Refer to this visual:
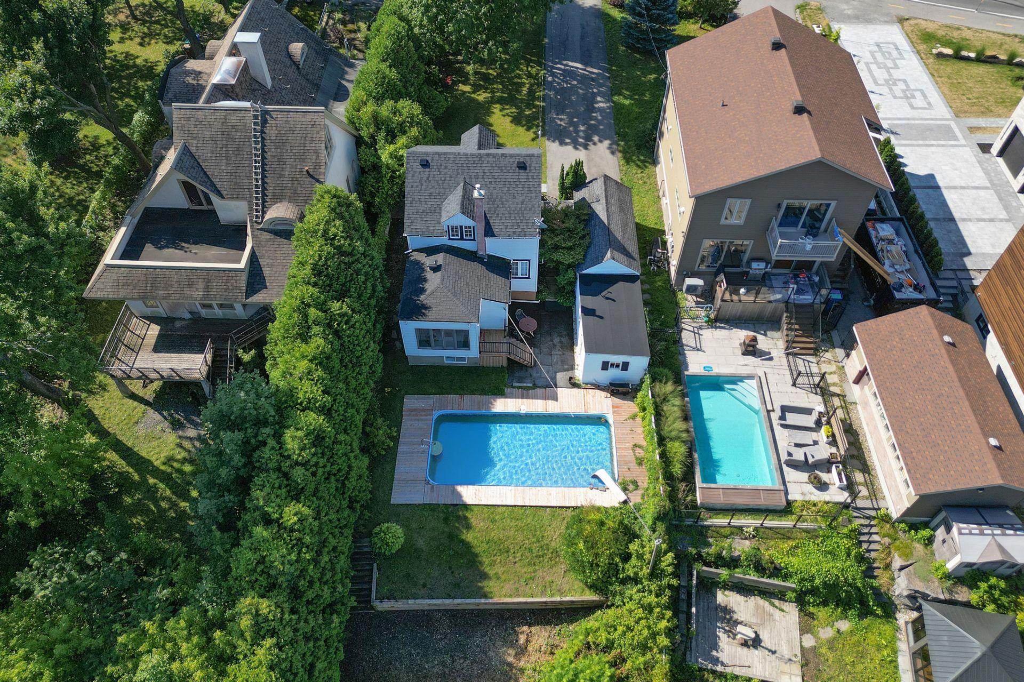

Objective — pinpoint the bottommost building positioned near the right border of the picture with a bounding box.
[887,598,1024,682]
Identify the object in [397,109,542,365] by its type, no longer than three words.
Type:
house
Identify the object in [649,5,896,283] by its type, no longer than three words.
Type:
house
